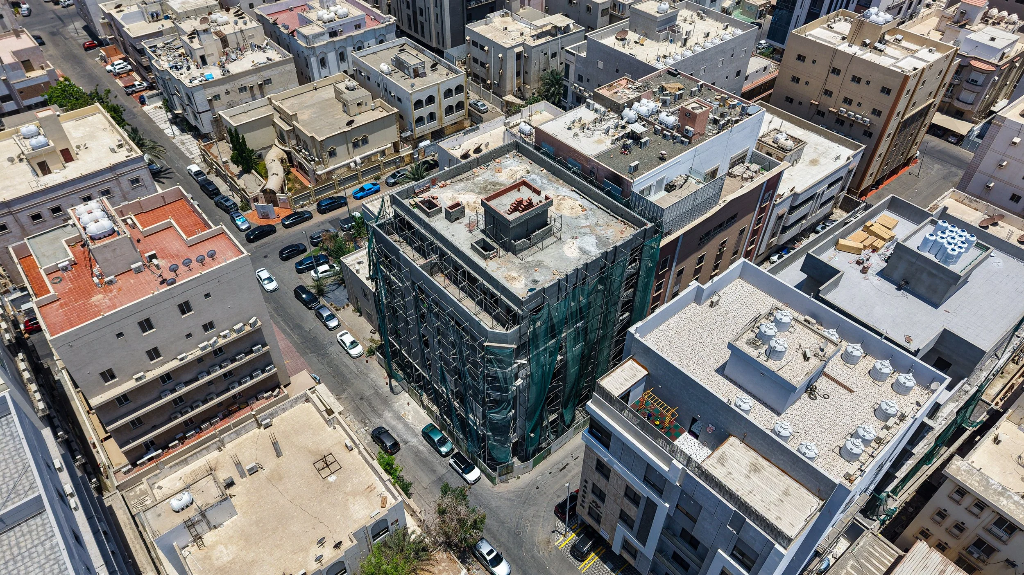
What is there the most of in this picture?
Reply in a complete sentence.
Most of the picture is covered by buildings.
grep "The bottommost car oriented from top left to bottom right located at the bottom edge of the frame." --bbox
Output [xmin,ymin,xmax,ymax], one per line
[472,535,512,575]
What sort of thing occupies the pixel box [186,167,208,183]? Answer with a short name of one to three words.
vehicle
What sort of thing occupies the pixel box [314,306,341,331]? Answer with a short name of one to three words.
car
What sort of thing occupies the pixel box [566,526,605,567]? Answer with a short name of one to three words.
car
